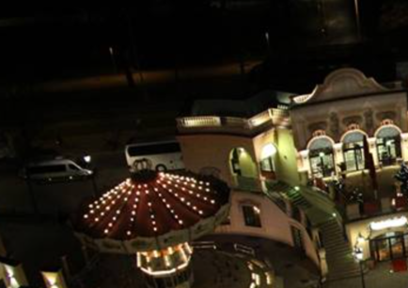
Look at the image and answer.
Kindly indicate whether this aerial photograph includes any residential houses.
Yes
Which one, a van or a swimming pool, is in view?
van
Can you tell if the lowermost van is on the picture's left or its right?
left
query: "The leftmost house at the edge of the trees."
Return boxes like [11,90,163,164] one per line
[159,92,314,276]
